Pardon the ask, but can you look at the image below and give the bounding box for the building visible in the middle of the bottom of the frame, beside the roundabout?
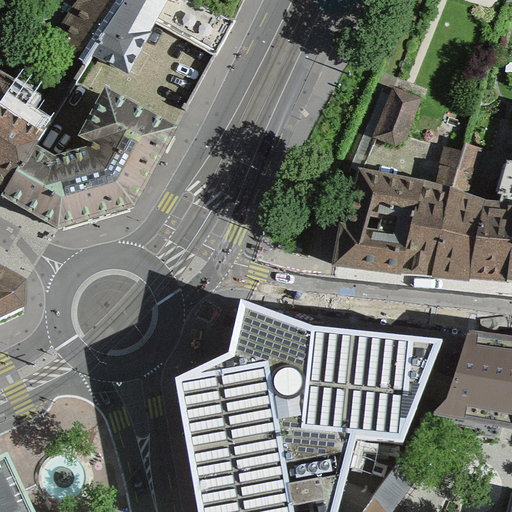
[176,298,442,512]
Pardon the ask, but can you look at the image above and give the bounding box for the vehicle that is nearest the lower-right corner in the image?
[414,277,442,290]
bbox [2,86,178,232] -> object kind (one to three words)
building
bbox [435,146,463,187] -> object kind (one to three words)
shed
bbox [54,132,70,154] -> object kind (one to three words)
car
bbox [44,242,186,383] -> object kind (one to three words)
roundabout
